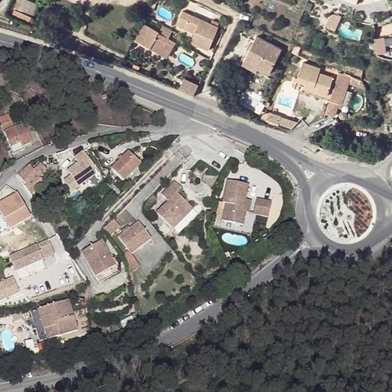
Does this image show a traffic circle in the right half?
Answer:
Yes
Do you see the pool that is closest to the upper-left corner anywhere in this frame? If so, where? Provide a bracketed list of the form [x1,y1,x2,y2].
[156,6,174,21]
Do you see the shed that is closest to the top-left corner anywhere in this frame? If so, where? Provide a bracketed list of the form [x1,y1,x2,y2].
[13,0,37,22]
